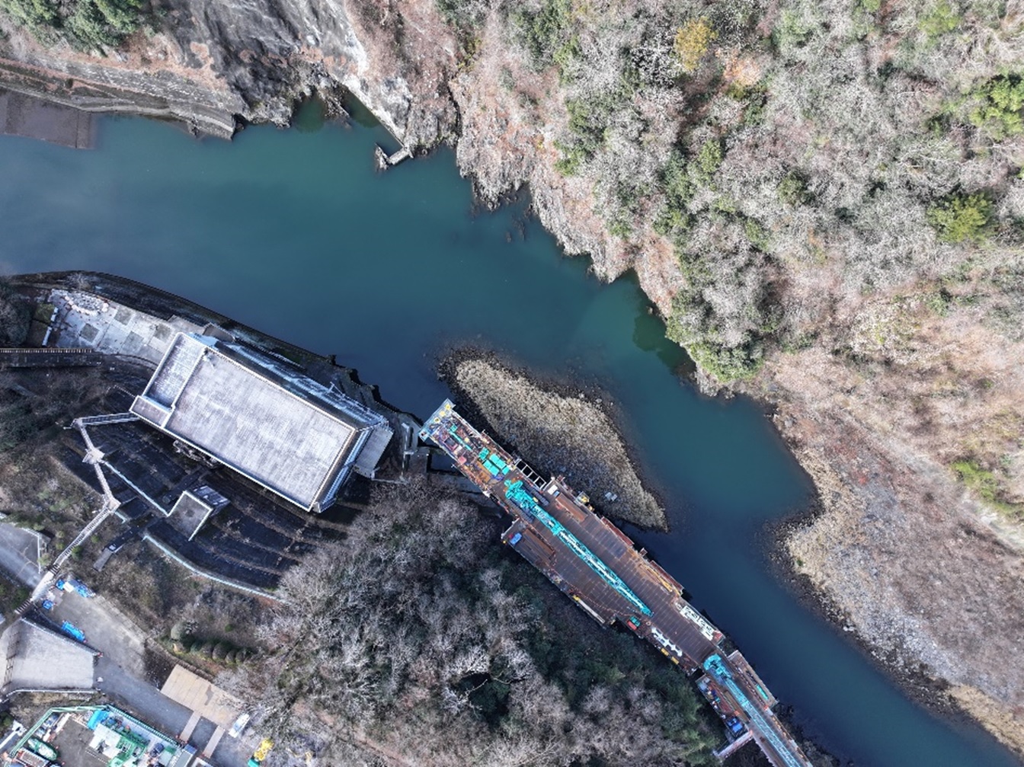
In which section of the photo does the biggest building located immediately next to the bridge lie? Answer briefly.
left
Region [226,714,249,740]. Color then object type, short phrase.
white vehicle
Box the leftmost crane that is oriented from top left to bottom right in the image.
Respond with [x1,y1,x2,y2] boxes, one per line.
[500,472,653,616]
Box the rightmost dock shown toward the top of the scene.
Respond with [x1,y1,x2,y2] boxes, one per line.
[374,144,413,172]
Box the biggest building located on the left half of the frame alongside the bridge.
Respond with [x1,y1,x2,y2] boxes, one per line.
[130,325,390,511]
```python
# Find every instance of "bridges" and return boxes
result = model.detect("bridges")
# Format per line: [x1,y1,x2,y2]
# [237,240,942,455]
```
[431,411,817,767]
